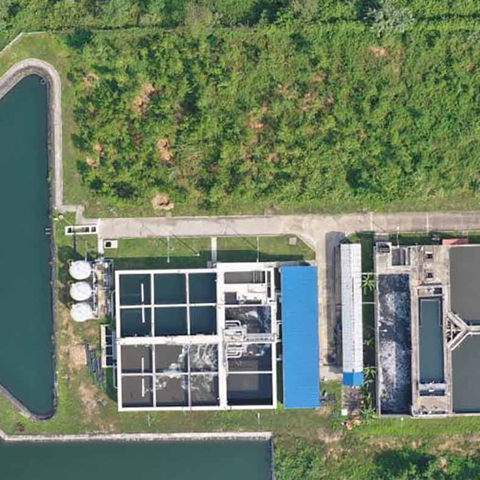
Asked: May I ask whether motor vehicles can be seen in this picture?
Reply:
No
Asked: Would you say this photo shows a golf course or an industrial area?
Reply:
industrial area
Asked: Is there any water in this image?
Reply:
Yes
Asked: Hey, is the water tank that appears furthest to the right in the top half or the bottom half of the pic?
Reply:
bottom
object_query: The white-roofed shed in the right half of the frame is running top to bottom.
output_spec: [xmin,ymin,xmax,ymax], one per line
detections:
[341,243,363,386]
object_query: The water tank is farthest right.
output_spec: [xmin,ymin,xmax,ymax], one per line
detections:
[115,262,279,411]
